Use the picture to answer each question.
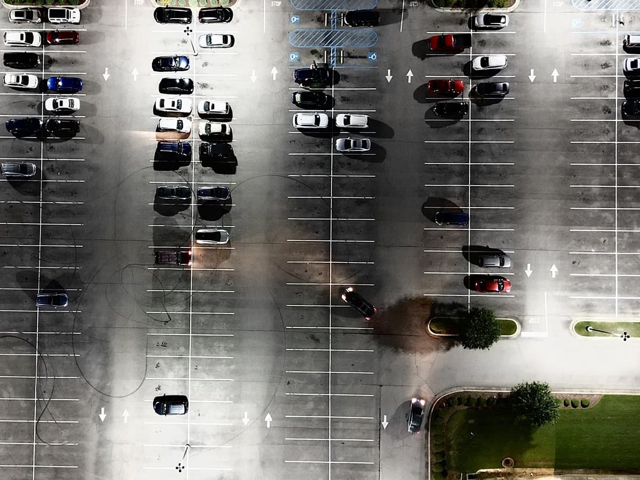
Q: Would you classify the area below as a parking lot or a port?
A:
parking lot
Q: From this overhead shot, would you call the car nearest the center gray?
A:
No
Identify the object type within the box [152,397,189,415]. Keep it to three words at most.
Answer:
car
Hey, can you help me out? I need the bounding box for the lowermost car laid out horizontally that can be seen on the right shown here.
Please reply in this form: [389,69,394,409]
[473,276,511,294]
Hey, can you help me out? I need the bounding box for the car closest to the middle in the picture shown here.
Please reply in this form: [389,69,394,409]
[342,288,375,320]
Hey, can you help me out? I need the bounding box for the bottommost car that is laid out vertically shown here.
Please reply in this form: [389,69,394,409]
[406,397,425,434]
